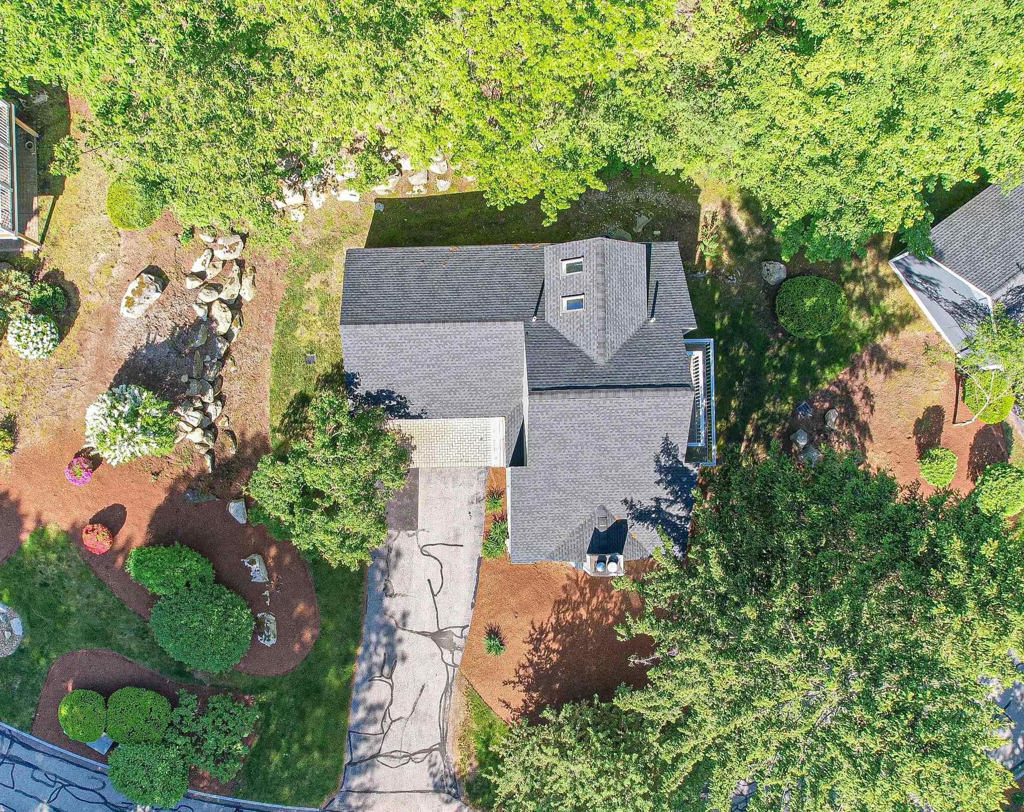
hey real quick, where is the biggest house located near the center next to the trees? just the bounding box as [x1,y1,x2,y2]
[340,237,702,578]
